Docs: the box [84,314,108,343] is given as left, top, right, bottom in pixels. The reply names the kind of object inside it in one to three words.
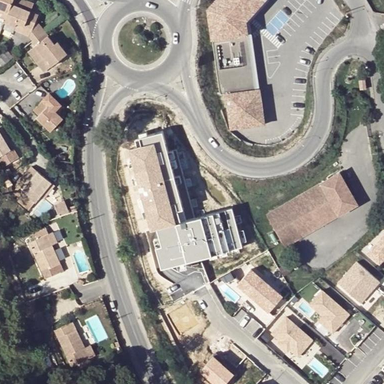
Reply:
swimming pool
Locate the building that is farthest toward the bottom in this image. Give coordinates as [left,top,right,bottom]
[202,358,234,384]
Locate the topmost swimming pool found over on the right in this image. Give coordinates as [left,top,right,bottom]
[220,283,241,302]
